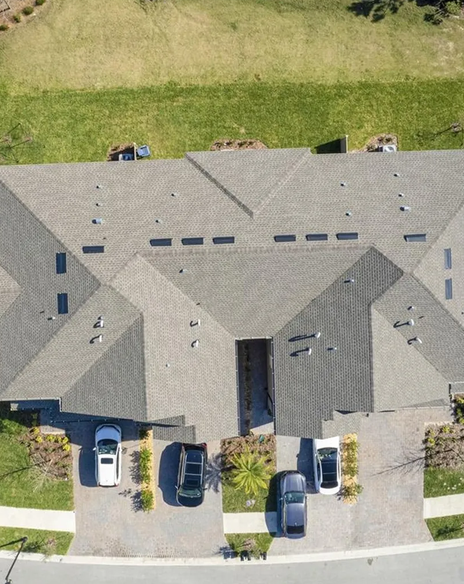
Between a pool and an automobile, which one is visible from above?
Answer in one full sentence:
Visible in the photo is an automobile.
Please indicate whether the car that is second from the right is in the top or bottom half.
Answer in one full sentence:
The car that is second from the right sits in the bottom half of the picture.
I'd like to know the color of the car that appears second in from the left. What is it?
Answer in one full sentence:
In this view, the car that appears second in from the left is black.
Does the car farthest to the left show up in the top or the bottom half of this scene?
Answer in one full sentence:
You can find the car farthest to the left in the bottom half.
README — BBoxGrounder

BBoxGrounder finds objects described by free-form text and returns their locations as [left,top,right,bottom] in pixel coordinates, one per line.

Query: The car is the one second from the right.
[277,468,309,539]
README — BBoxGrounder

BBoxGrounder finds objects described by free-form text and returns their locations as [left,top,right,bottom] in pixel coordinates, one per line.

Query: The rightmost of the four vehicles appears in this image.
[310,437,342,495]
